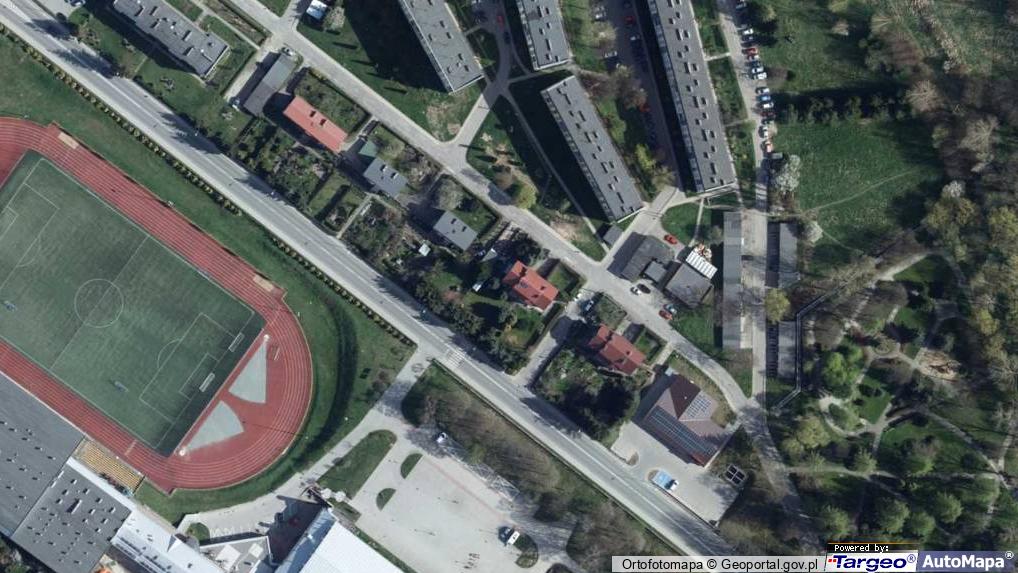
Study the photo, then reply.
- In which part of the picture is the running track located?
left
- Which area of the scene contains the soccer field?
left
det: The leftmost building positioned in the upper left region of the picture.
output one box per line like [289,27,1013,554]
[108,0,229,79]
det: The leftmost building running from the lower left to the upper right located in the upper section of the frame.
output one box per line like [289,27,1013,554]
[243,54,293,116]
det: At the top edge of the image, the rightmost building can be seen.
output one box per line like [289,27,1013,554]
[644,0,736,192]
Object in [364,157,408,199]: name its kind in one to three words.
house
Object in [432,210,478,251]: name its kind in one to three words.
house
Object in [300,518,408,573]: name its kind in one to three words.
building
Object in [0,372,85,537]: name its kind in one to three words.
building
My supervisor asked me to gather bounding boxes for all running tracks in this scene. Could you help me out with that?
[0,115,313,501]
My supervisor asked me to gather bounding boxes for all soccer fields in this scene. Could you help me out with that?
[0,147,267,459]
